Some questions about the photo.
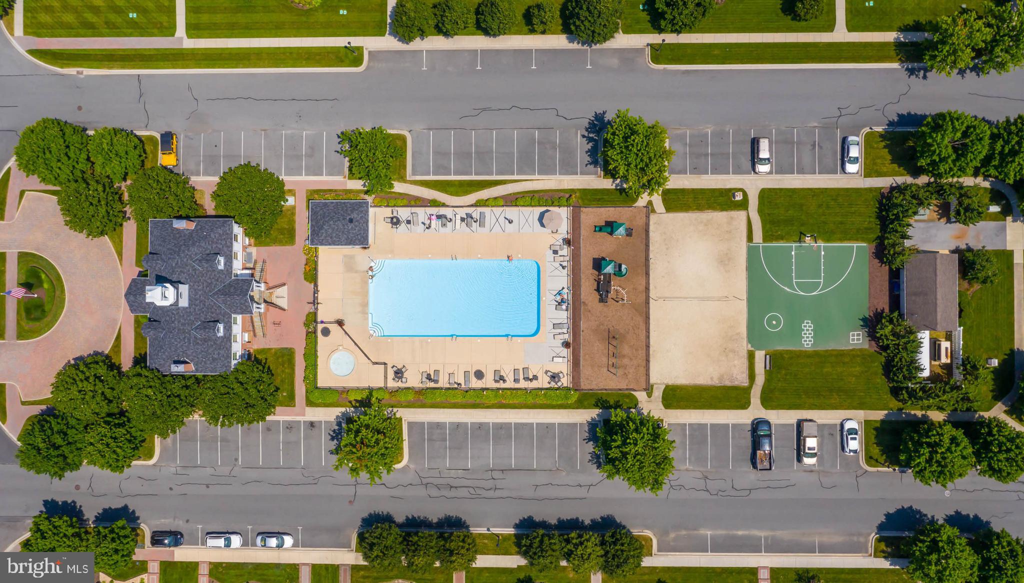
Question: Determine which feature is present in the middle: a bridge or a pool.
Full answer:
The feature located in the middle is a pool.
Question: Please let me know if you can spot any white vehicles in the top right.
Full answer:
Yes, looking in the top right, one can make out a white vehicle.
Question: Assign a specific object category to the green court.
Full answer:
I'd identify the green court as a basketball court.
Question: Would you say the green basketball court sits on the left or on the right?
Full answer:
The green basketball court is on the right side of the image.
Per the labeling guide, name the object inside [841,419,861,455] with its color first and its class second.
white car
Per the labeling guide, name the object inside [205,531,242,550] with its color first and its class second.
white car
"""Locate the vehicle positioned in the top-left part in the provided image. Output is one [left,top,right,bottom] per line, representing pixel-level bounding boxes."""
[159,133,178,164]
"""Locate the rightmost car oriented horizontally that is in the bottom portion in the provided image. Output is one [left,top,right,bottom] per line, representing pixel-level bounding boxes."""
[256,532,294,550]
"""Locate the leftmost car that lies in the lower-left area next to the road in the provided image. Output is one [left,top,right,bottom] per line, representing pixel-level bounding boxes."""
[148,531,184,549]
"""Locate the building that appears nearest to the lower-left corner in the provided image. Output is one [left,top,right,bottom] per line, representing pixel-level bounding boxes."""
[123,218,290,375]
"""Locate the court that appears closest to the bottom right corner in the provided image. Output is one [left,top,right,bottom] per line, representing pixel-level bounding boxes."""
[748,242,869,351]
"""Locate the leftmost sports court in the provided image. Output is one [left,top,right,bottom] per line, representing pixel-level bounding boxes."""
[650,210,749,385]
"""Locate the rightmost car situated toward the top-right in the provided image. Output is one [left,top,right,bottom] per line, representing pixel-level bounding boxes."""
[843,137,861,174]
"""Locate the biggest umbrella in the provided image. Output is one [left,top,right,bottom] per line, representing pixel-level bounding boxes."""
[543,211,563,231]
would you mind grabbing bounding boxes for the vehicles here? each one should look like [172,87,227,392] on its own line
[754,137,773,174]
[841,419,861,455]
[148,531,184,549]
[256,532,294,550]
[205,531,242,550]
[754,421,774,471]
[799,419,819,465]
[159,133,178,164]
[843,137,861,174]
